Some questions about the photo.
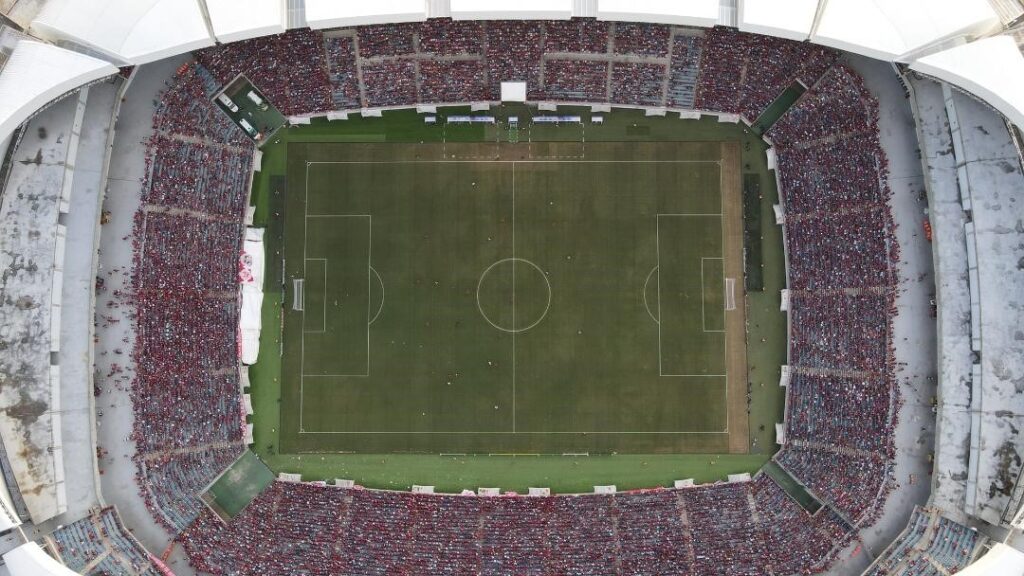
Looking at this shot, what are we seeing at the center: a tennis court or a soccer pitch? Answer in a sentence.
The feature located at the center is a soccer pitch.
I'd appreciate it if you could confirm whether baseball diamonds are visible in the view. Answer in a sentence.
No, there appears to be no baseball diamond in this shot.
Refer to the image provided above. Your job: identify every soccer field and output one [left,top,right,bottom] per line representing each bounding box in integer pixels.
[281,123,749,453]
